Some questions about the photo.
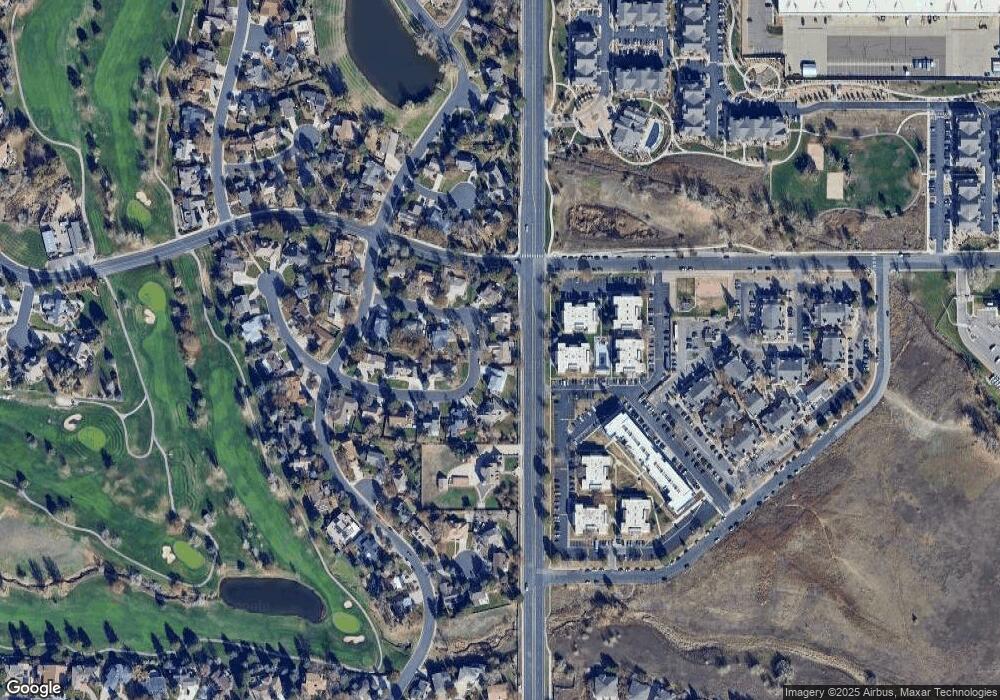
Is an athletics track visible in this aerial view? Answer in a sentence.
No, the photo shows no athletics track.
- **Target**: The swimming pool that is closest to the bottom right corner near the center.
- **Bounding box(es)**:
[595,337,610,370]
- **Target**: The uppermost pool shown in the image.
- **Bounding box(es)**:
[640,118,664,151]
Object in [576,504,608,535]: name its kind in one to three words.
building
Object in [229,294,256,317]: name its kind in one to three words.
house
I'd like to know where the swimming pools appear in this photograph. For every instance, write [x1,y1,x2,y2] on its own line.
[640,118,664,151]
[595,337,610,370]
